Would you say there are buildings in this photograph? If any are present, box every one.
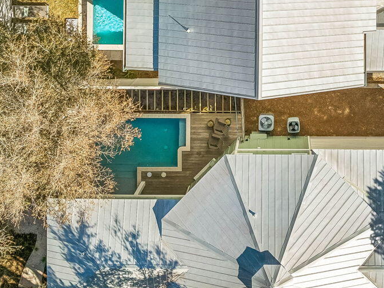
[44,123,384,288]
[122,0,384,97]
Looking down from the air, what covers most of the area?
buildings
